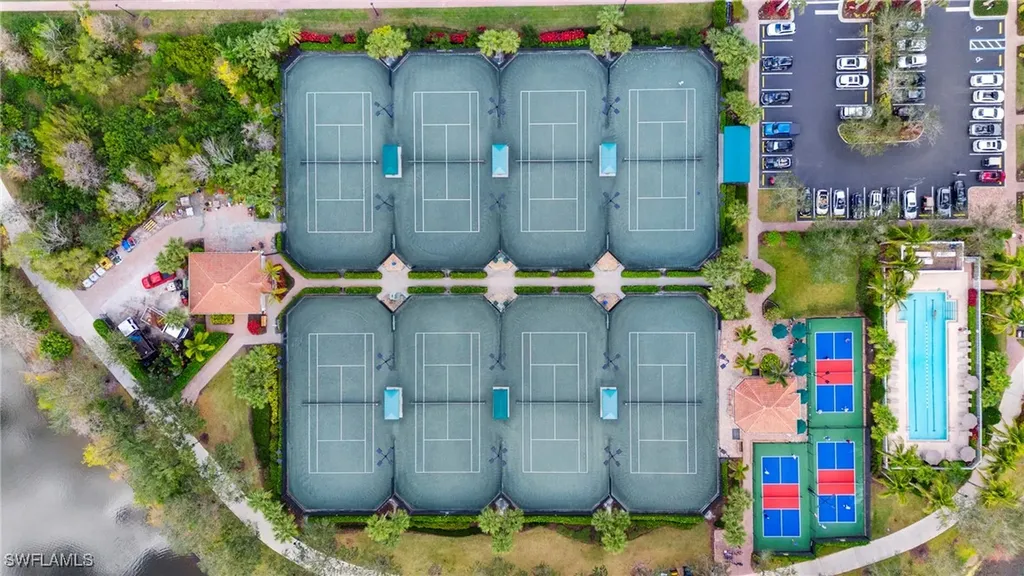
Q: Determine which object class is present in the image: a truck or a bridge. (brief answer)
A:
truck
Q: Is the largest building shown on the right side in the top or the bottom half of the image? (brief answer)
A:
bottom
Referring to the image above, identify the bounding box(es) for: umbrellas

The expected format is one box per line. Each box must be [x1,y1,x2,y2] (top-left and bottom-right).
[791,341,807,356]
[772,323,788,339]
[796,419,808,434]
[791,322,807,338]
[960,376,978,390]
[799,389,809,404]
[791,360,807,375]
[959,412,978,429]
[957,446,975,462]
[923,449,941,465]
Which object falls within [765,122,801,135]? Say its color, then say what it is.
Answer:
blue vehicle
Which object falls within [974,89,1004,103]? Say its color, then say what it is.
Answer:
white car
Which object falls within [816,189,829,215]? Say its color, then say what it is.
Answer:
white vehicle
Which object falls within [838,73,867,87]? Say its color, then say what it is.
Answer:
white car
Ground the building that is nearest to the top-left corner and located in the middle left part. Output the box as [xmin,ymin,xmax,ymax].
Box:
[189,252,271,314]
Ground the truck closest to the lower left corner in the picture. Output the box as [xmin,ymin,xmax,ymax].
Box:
[116,319,156,363]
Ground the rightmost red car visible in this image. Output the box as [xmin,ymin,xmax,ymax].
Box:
[977,169,1006,183]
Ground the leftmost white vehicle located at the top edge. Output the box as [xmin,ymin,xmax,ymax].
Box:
[767,21,796,35]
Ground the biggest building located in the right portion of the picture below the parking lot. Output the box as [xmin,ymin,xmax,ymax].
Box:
[730,376,801,433]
